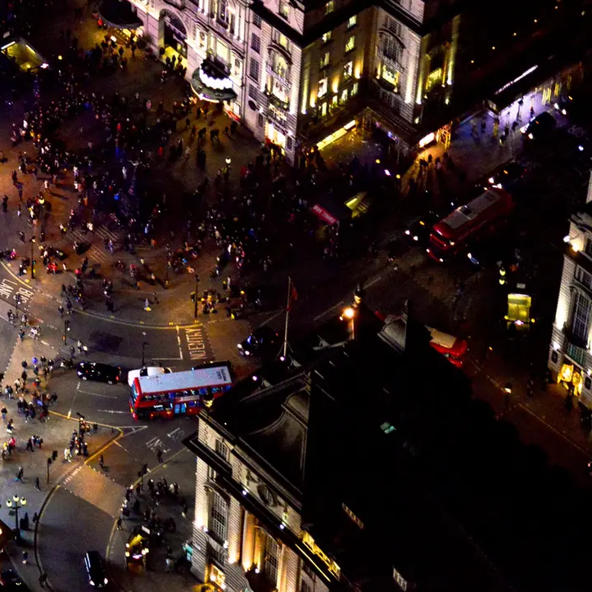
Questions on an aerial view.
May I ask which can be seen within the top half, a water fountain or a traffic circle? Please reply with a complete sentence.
The feature located within the top half is a water fountain.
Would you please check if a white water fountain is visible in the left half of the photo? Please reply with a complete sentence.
No, I see no white water fountain in the left half of the photo.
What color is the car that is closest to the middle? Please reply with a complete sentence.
From above, the car that is closest to the middle appears black.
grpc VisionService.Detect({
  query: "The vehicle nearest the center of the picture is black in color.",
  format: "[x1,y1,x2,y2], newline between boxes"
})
[242,327,283,355]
